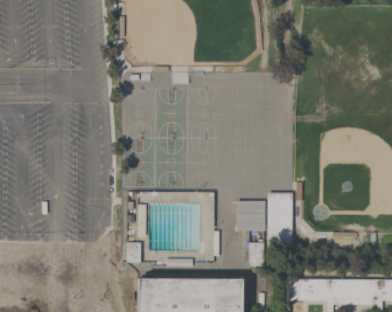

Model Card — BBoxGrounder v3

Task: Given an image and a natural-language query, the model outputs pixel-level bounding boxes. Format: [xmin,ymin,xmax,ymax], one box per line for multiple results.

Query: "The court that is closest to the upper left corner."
[124,90,155,138]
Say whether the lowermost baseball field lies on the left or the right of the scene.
right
